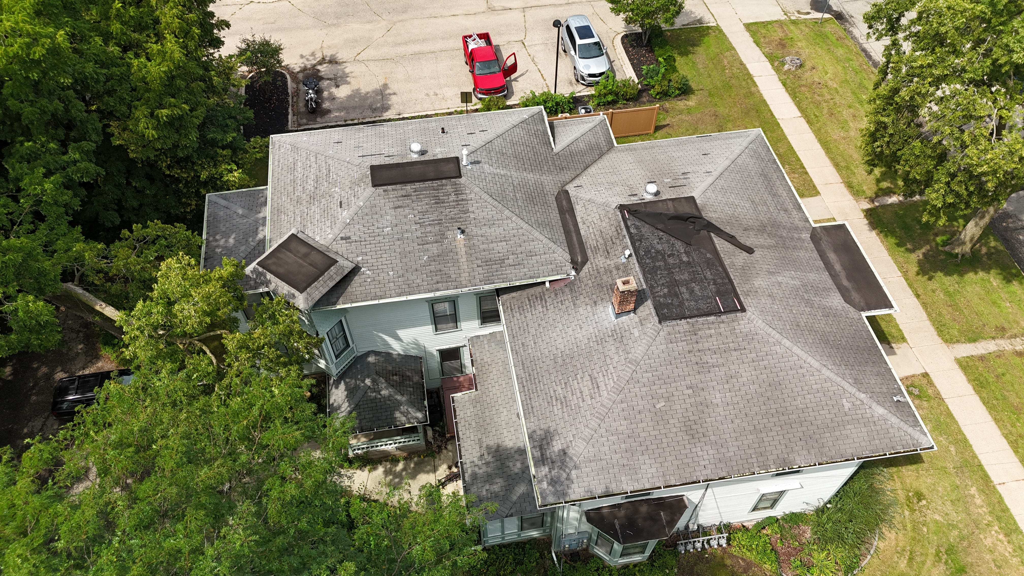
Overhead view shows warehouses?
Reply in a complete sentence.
No, I can't see a single warehouse in this photo.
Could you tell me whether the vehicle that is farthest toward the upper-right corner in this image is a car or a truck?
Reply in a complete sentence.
From above, the vehicle that is farthest toward the upper-right corner can be identified as a car.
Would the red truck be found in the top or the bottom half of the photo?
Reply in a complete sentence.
The red truck is in the top half of the image.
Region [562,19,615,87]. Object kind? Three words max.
car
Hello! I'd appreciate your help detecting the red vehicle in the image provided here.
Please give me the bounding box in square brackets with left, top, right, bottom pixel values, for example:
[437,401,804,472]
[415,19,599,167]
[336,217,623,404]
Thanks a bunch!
[463,36,521,103]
